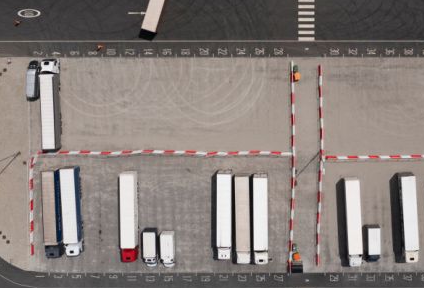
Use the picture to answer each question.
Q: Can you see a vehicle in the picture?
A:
Yes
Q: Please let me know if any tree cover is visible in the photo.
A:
No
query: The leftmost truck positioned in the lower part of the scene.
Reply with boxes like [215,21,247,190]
[41,167,65,260]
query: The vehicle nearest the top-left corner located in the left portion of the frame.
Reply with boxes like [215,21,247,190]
[23,60,38,99]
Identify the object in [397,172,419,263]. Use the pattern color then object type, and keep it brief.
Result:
white truck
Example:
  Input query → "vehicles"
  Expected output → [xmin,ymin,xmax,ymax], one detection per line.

[39,57,62,150]
[23,60,38,99]
[161,231,175,262]
[59,165,84,258]
[143,227,158,266]
[120,170,139,263]
[141,0,167,33]
[365,224,382,265]
[41,167,65,260]
[217,170,233,261]
[253,173,270,265]
[344,176,364,268]
[234,173,252,264]
[397,172,419,263]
